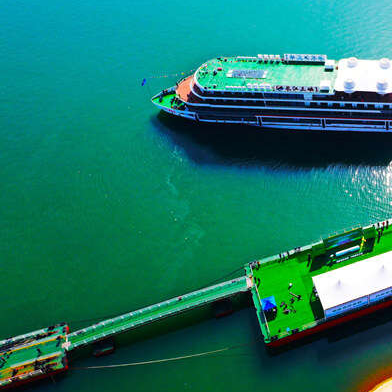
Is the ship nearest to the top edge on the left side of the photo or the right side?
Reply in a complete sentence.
The ship nearest to the top edge is on the right side of the image.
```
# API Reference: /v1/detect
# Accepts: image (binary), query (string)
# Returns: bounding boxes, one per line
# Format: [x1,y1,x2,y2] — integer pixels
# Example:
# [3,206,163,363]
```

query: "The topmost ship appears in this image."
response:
[143,52,392,133]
